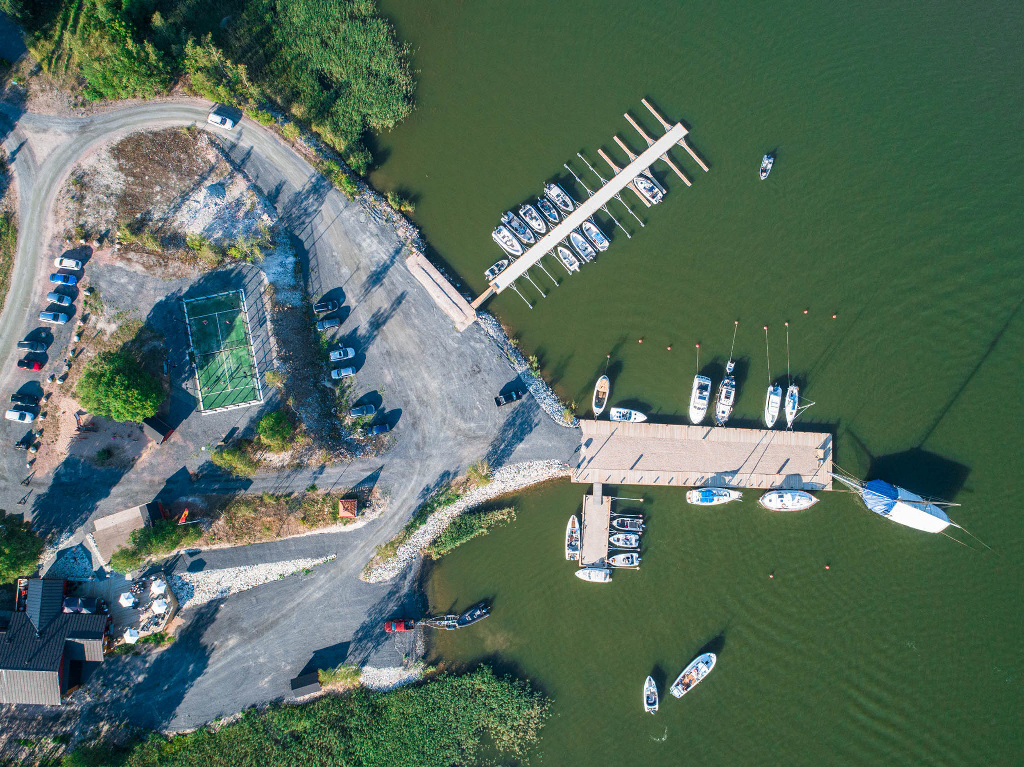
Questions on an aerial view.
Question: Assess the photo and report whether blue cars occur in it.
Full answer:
Yes, there is a blue car in the image.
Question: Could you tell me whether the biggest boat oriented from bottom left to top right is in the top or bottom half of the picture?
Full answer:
The biggest boat oriented from bottom left to top right is in the bottom half of the image.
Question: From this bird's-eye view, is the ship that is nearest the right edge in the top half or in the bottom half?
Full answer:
It is in the bottom half that the ship that is nearest the right edge appears.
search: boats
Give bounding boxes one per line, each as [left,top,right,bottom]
[759,490,820,511]
[545,183,573,212]
[714,375,739,425]
[610,407,648,422]
[635,176,661,205]
[484,261,508,279]
[785,383,811,426]
[592,375,610,416]
[455,601,490,627]
[608,553,642,567]
[520,204,545,233]
[575,567,614,583]
[501,212,534,243]
[538,198,558,222]
[491,224,524,256]
[559,247,578,271]
[726,360,736,373]
[764,383,782,426]
[571,232,597,262]
[612,517,647,530]
[668,653,716,701]
[688,375,711,424]
[609,532,643,548]
[643,675,658,715]
[760,152,772,180]
[583,222,609,252]
[565,515,580,563]
[685,487,742,505]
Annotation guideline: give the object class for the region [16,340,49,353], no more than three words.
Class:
vehicle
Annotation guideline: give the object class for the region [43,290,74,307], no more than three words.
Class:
car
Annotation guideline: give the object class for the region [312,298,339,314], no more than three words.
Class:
car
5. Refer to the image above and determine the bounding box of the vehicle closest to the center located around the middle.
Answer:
[494,389,524,407]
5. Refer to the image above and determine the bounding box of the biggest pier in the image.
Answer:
[571,419,833,491]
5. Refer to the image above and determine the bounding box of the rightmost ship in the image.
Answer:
[827,471,965,534]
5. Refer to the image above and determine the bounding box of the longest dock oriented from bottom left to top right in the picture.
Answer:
[488,98,709,309]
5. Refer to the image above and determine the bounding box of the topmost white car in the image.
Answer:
[206,114,236,133]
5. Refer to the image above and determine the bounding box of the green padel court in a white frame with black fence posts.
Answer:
[171,285,262,415]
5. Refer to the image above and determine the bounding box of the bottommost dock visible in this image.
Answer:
[578,494,644,570]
